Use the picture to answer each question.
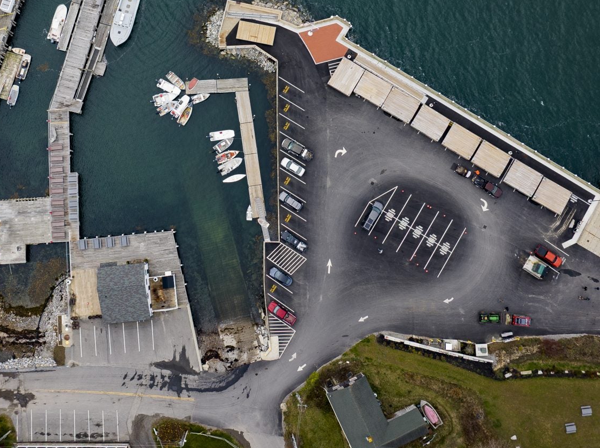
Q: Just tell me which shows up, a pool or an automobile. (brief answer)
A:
automobile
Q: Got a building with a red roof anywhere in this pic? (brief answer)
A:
No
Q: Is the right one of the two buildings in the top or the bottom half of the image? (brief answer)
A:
bottom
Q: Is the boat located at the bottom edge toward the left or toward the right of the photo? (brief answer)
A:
right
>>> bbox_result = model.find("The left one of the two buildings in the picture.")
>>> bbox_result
[96,261,153,323]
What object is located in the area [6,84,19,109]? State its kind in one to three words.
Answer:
boat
